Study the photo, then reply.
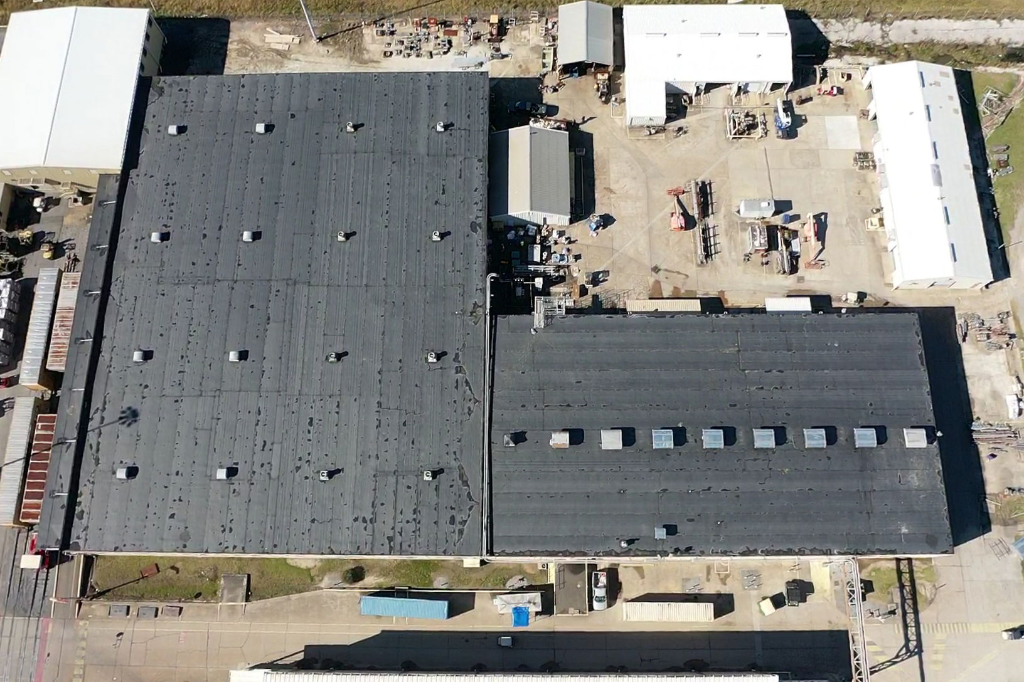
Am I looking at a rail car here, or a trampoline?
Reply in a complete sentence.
Of the two, only a rail car appears.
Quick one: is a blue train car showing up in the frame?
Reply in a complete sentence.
No, I can't see a single blue train car in this photo.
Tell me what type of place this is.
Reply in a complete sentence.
This looks like an industrial area.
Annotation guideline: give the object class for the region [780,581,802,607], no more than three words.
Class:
truck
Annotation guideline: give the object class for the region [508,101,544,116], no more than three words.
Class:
vehicle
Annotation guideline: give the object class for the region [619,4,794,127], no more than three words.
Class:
building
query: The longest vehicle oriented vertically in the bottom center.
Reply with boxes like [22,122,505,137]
[592,569,608,613]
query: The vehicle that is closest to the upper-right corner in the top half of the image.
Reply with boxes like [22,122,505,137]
[816,84,840,99]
